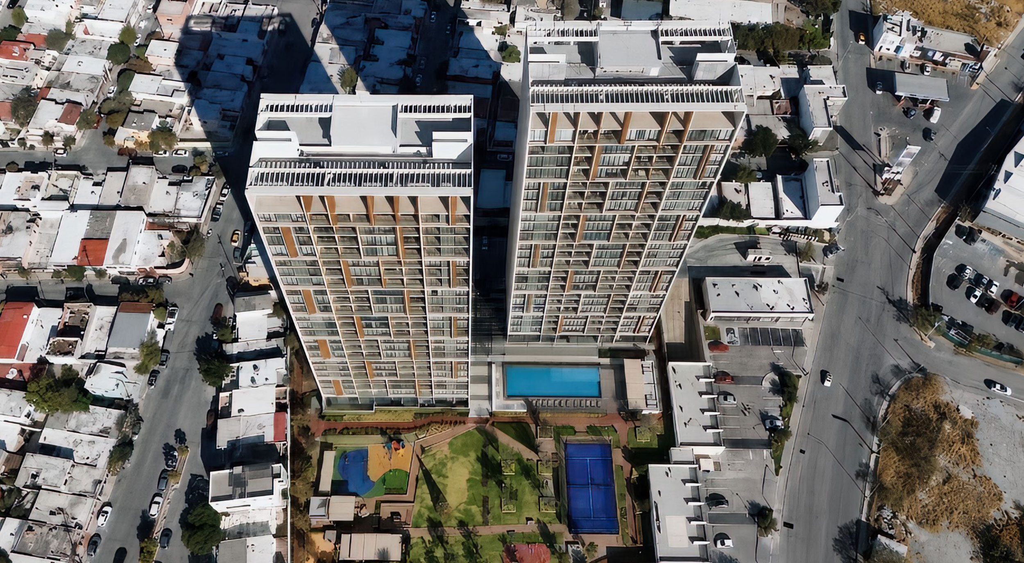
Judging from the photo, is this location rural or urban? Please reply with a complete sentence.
From above, the setting appears urban.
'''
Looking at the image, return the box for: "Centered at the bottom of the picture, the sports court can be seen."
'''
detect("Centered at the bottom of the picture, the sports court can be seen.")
[563,438,622,536]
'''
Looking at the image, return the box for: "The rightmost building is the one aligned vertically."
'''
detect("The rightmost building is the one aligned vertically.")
[955,127,1024,277]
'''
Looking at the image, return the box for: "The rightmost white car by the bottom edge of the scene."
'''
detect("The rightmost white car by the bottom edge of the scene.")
[712,537,735,549]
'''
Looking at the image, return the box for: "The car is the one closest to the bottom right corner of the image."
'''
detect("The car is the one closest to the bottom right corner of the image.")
[989,380,1010,394]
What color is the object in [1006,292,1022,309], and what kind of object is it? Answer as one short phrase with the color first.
red car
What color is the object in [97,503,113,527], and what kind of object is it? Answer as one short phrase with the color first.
white car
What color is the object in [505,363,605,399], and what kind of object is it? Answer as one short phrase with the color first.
blue swimming pool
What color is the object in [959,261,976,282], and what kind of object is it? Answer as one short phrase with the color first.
gray car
